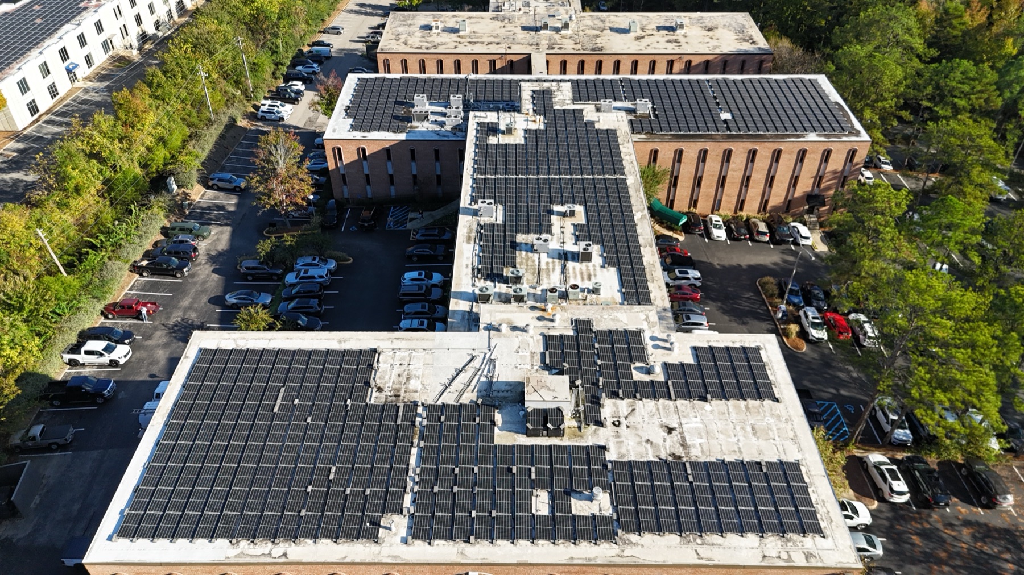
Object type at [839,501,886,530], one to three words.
car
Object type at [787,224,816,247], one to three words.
car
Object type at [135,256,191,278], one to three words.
truck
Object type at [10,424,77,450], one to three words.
truck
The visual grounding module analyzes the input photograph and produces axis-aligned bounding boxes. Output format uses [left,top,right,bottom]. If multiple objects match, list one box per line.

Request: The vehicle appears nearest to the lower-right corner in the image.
[959,459,1018,512]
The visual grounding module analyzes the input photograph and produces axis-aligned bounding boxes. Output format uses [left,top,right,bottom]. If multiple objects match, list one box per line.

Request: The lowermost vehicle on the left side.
[60,534,98,566]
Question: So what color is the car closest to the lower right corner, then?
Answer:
black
